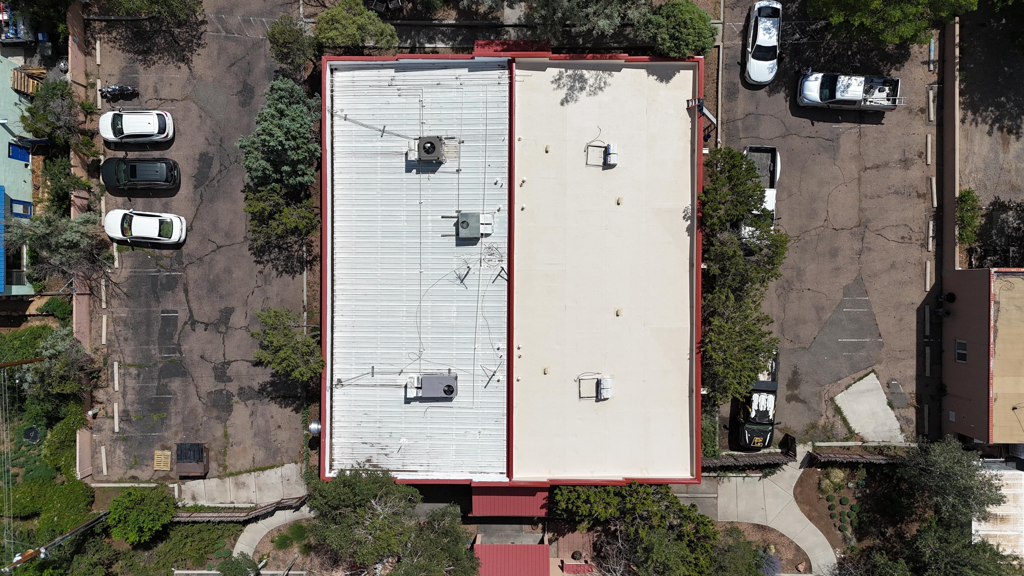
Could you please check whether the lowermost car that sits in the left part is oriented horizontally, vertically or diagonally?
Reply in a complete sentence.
Seen from above, the lowermost car that sits in the left part lies horizontally.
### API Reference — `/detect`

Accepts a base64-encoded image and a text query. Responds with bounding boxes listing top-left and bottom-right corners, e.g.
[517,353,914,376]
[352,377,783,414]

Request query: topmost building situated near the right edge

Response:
[943,268,1024,444]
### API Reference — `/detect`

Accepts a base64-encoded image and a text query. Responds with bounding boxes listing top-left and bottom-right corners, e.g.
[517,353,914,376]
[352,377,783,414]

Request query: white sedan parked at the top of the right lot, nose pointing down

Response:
[742,4,783,86]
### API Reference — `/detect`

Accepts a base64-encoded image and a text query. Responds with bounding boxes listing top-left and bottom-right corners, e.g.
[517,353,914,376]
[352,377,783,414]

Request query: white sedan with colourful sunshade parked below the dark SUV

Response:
[105,207,187,245]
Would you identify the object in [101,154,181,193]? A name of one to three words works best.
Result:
car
